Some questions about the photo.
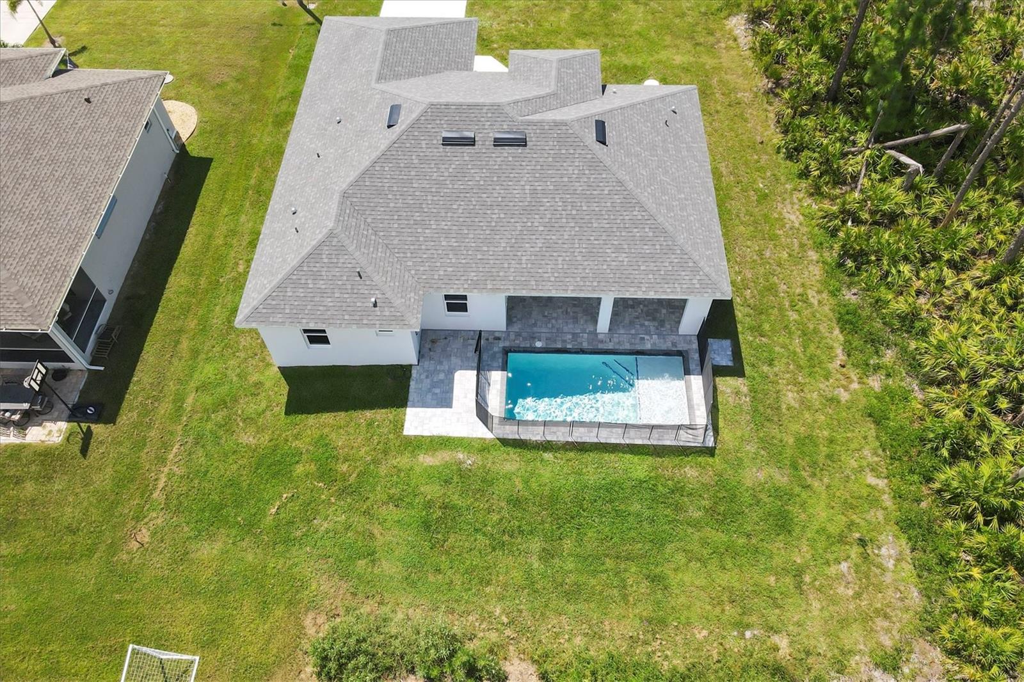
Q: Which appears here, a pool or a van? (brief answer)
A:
pool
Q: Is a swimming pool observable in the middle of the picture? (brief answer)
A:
Yes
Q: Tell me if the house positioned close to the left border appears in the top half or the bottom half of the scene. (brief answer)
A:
top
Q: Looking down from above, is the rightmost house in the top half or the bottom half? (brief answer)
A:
top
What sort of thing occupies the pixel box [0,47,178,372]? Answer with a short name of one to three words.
house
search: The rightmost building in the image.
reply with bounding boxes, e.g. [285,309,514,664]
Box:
[237,16,731,368]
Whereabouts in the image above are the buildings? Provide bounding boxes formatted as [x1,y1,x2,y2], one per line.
[237,16,731,368]
[0,47,178,372]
